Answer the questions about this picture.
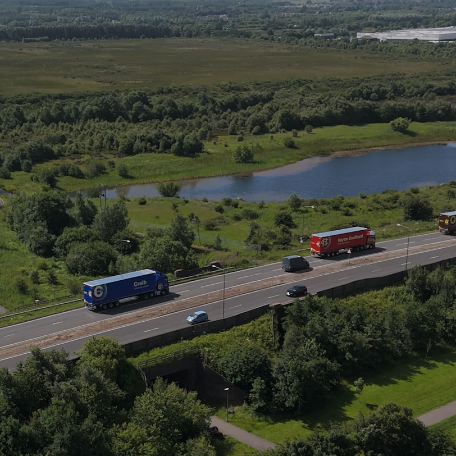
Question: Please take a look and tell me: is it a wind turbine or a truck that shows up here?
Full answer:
It is a truck that can be seen here.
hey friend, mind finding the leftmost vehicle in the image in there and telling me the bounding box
[82,269,168,308]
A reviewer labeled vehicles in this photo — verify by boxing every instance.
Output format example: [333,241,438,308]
[310,227,377,257]
[282,255,311,273]
[437,212,456,234]
[82,269,168,308]
[185,310,211,324]
[286,285,309,298]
